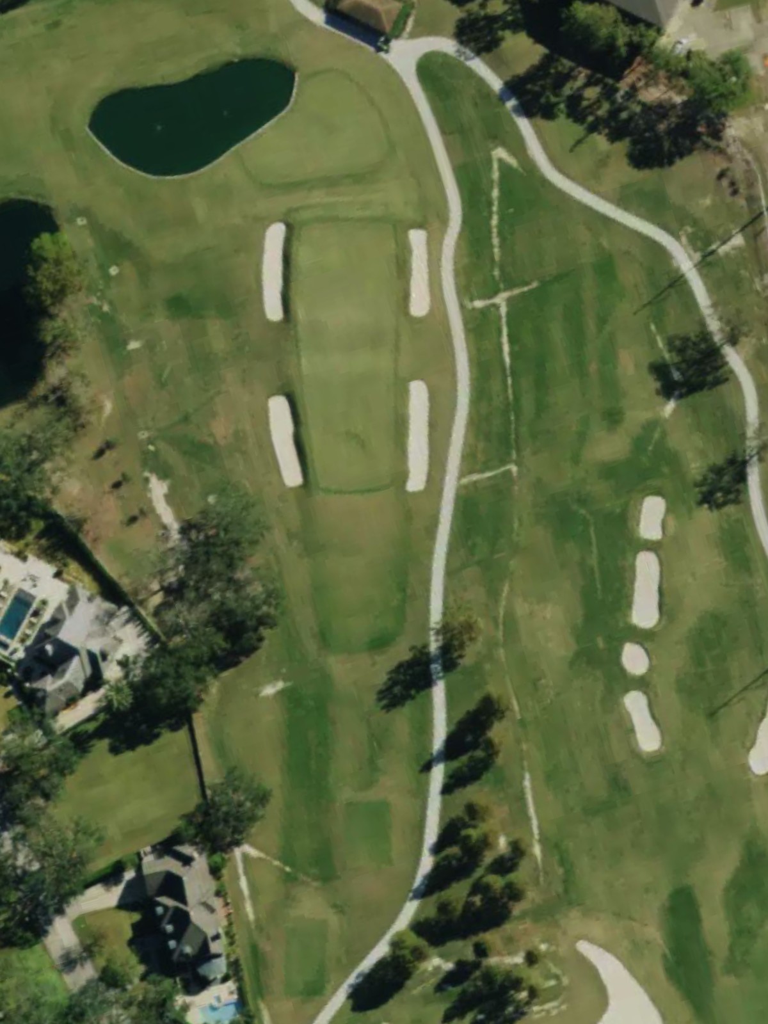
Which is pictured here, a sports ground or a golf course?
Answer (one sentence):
This looks like a golf course.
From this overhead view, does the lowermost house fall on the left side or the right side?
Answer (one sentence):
The lowermost house is on the left side of the image.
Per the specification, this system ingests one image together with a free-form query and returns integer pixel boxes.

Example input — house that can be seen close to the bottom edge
[143,843,225,989]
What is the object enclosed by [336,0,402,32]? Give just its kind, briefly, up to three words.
building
